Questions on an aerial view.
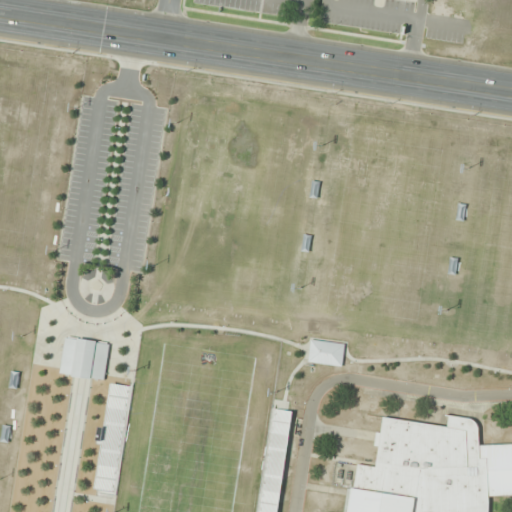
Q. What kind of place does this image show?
sports ground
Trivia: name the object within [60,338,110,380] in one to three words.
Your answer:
building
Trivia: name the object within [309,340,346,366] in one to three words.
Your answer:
building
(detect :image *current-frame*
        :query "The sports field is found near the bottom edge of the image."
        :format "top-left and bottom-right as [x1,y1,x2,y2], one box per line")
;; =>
[136,339,262,512]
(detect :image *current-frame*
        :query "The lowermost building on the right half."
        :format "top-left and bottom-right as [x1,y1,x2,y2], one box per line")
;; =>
[344,414,512,512]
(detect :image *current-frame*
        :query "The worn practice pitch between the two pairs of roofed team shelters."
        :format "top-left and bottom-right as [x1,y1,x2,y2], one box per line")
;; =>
[316,114,457,327]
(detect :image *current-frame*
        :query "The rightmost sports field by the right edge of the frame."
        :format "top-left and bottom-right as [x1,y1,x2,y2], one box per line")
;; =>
[462,114,512,298]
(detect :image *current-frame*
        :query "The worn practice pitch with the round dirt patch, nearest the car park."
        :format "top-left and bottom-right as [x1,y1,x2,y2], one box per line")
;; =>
[170,104,312,301]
